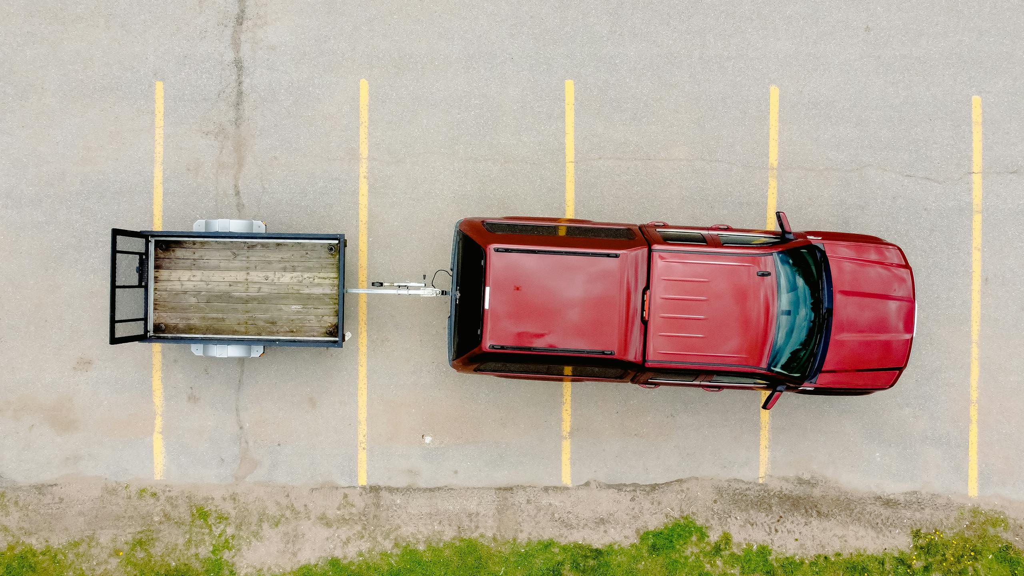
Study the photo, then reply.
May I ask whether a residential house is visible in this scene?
No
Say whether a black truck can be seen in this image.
No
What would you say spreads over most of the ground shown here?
paved ground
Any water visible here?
No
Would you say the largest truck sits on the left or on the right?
right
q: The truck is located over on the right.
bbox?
[440,210,916,412]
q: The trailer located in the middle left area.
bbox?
[107,220,452,360]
